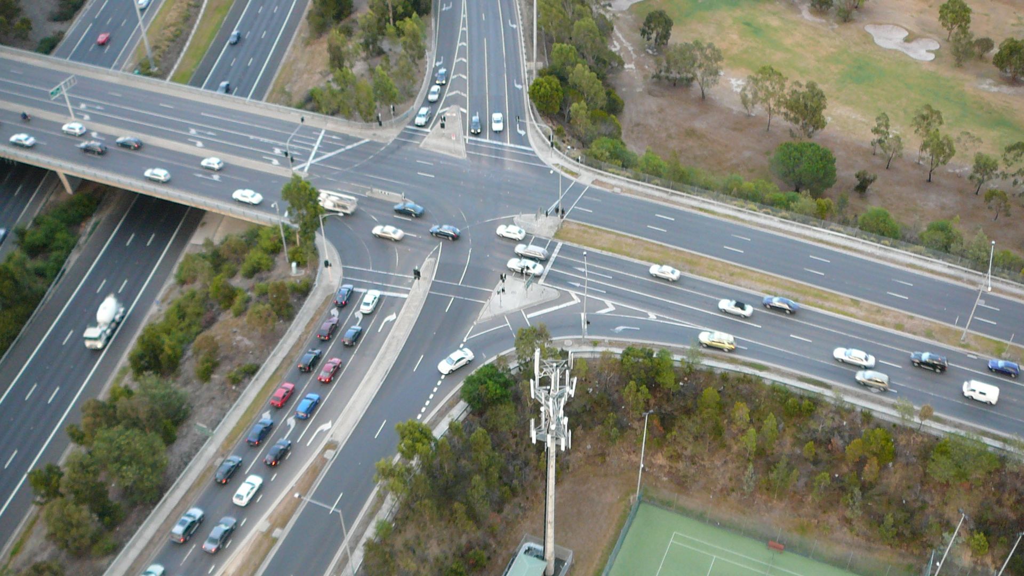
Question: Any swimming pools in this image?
No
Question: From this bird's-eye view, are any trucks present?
Yes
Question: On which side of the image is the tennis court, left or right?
right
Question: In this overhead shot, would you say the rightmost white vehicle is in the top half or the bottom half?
bottom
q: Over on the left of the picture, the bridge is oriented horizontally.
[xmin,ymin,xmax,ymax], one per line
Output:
[0,46,342,230]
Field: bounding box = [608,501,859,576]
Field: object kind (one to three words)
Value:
tennis court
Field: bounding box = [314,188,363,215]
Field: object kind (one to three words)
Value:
truck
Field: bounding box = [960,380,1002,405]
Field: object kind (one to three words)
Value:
vehicle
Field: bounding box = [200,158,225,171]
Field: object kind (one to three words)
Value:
vehicle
